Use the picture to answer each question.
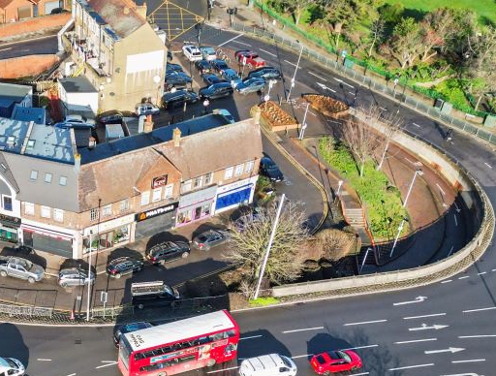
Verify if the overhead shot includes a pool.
No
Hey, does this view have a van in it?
Yes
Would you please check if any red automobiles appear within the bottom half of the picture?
Yes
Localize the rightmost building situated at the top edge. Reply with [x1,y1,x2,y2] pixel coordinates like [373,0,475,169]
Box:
[60,0,174,114]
